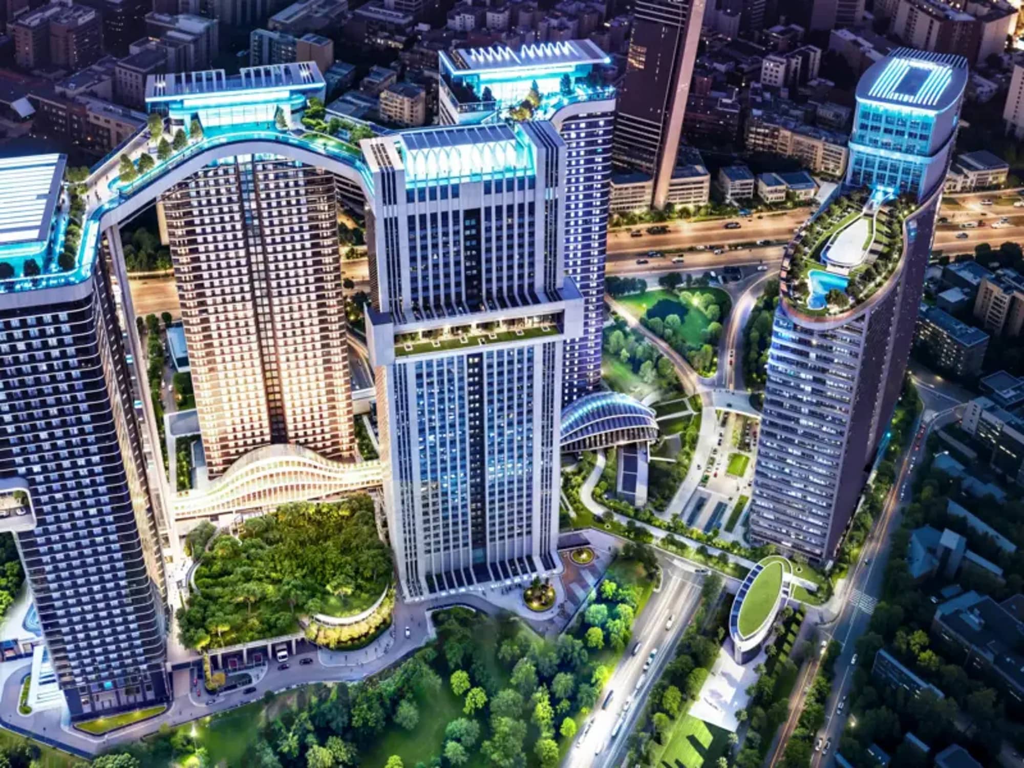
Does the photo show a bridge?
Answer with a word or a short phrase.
Yes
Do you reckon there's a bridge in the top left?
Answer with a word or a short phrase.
Yes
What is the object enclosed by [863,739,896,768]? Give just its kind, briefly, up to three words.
building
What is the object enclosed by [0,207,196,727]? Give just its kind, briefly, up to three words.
building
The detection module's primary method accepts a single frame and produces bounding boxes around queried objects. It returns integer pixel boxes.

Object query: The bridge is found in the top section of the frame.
[80,115,372,249]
